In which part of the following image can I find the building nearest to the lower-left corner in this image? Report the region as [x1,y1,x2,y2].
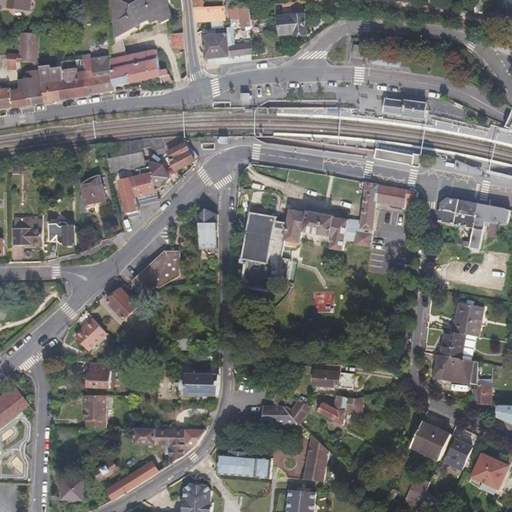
[60,482,85,502]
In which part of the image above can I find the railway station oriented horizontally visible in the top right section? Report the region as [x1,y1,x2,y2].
[274,108,512,170]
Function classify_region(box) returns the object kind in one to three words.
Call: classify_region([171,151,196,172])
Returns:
house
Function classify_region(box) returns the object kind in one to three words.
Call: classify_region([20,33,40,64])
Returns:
barn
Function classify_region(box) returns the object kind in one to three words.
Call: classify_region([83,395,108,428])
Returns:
house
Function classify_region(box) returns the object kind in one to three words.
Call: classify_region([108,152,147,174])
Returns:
building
